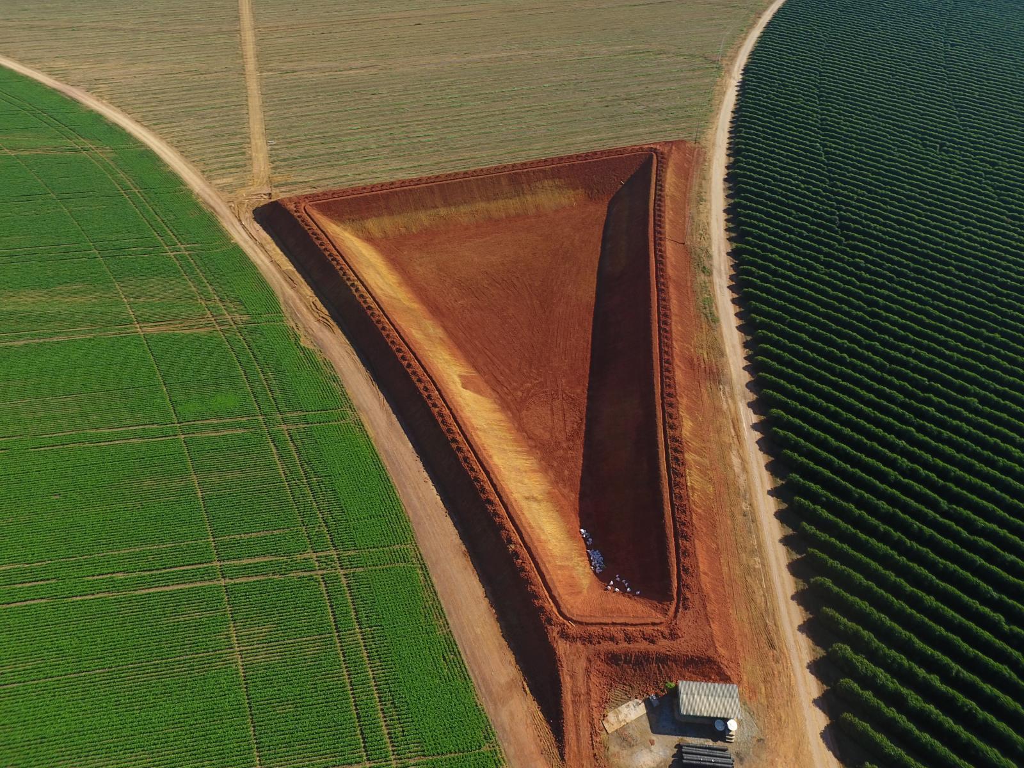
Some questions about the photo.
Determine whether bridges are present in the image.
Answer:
No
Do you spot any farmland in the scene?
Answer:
Yes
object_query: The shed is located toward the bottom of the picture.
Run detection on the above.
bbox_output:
[678,681,742,723]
